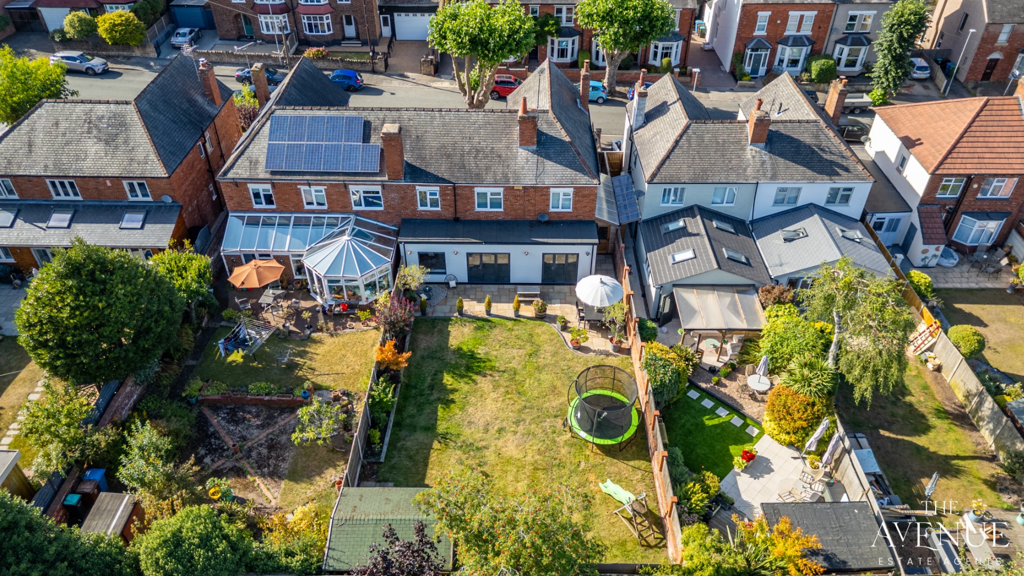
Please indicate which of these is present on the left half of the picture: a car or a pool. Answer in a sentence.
It is a car that can be seen on the left half of the picture.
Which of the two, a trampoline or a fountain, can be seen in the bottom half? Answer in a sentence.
The feature located in the bottom half is a trampoline.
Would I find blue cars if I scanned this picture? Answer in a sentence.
Yes, this view includes a blue car.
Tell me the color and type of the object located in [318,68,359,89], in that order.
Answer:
blue car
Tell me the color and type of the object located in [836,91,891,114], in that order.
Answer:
gray trailer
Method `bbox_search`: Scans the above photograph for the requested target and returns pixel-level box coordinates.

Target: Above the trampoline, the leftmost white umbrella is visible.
[574,278,622,312]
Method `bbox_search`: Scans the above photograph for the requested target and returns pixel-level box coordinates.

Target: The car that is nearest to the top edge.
[170,29,211,46]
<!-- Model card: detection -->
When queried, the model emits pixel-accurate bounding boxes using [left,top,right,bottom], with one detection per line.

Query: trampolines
[567,363,644,451]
